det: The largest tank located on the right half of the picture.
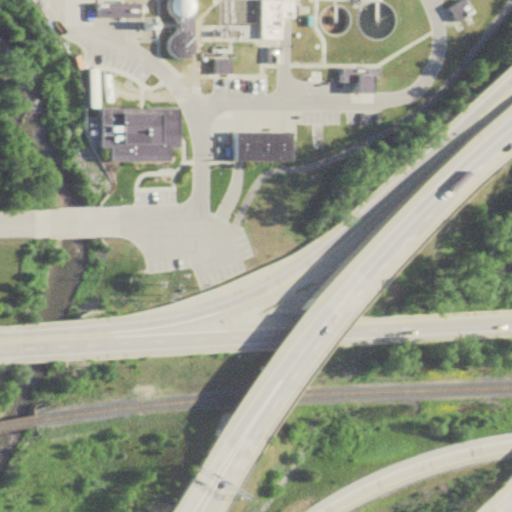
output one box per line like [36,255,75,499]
[358,0,396,39]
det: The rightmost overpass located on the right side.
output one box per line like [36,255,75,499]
[176,102,512,512]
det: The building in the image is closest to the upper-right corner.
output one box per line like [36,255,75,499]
[446,1,472,22]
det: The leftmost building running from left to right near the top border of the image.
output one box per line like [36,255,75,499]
[94,4,142,18]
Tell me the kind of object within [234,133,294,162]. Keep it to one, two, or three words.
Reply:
building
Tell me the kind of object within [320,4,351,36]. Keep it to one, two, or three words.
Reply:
storage tank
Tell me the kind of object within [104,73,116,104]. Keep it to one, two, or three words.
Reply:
shed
